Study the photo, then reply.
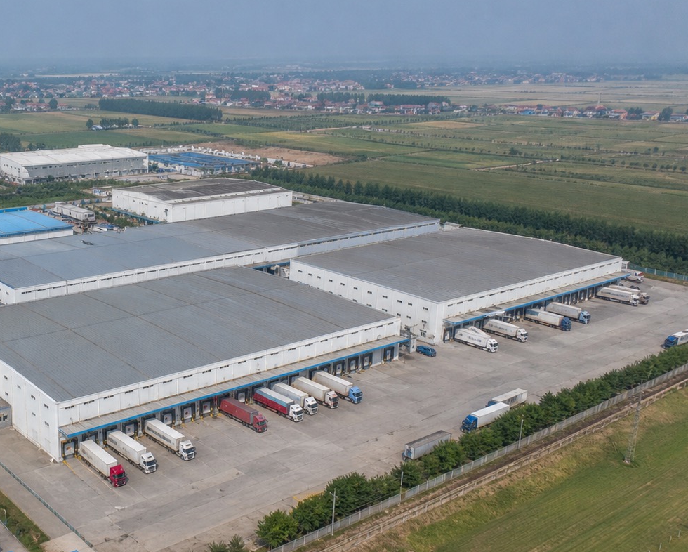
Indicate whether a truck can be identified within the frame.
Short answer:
Yes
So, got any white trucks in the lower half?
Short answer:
Yes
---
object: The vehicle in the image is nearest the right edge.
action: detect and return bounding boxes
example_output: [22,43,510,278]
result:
[664,326,688,348]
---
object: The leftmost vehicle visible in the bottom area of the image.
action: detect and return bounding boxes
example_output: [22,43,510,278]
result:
[78,440,130,483]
